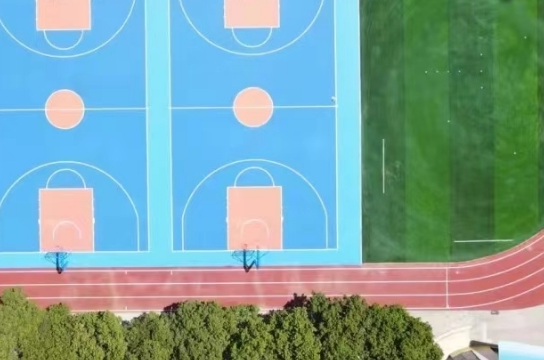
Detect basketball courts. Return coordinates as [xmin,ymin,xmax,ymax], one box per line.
[170,0,336,252]
[0,0,148,254]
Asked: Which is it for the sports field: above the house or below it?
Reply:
above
